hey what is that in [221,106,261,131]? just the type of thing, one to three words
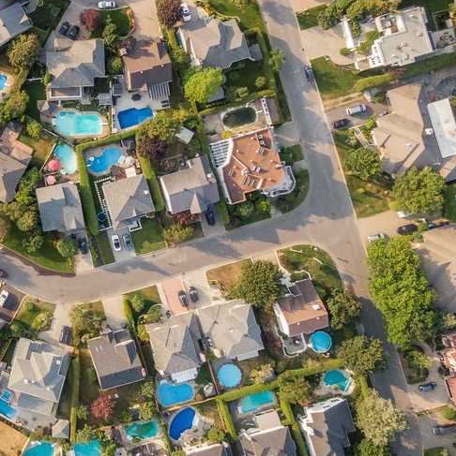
swimming pool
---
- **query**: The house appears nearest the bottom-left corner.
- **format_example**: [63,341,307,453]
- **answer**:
[7,336,74,420]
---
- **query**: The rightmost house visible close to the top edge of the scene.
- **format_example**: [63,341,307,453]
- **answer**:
[349,6,433,70]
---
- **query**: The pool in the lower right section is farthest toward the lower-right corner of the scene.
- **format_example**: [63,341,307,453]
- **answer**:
[321,369,352,397]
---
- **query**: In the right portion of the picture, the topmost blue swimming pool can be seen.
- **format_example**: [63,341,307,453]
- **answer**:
[308,331,333,353]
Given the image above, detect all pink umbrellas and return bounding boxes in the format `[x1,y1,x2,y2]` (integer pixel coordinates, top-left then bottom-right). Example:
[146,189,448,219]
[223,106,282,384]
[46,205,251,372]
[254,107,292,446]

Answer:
[46,174,56,185]
[47,158,60,171]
